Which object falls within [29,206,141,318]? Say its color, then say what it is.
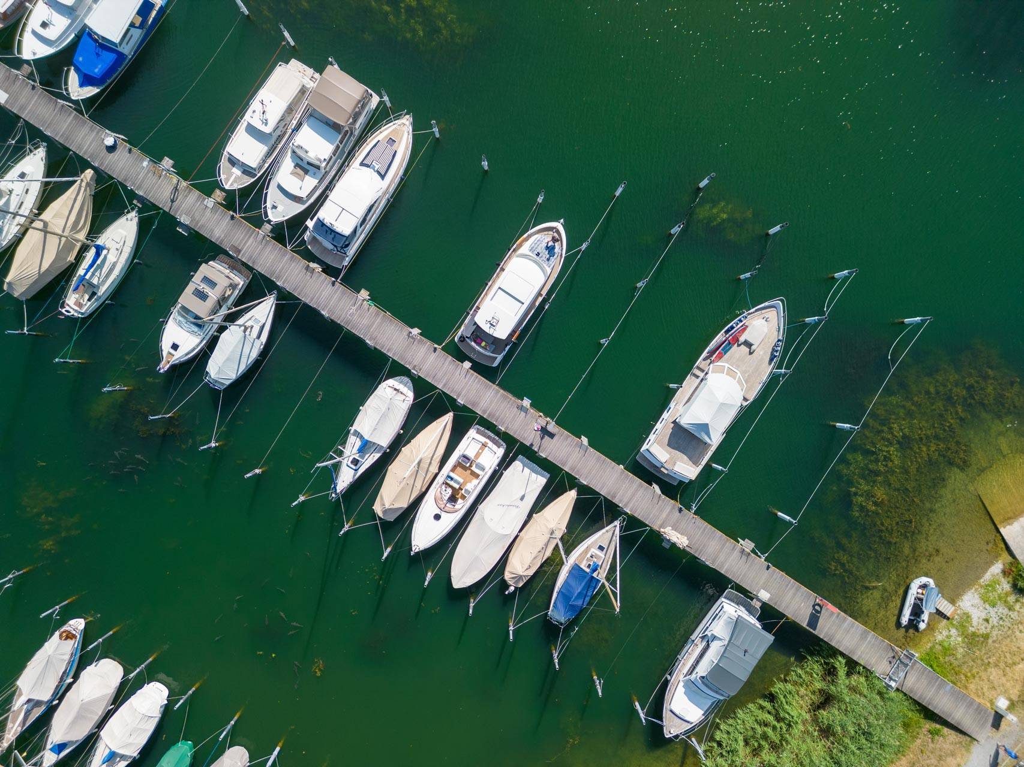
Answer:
white boat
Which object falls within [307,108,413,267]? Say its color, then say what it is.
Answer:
white boat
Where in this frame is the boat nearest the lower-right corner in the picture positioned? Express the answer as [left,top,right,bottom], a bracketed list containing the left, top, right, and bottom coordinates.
[891,576,934,637]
